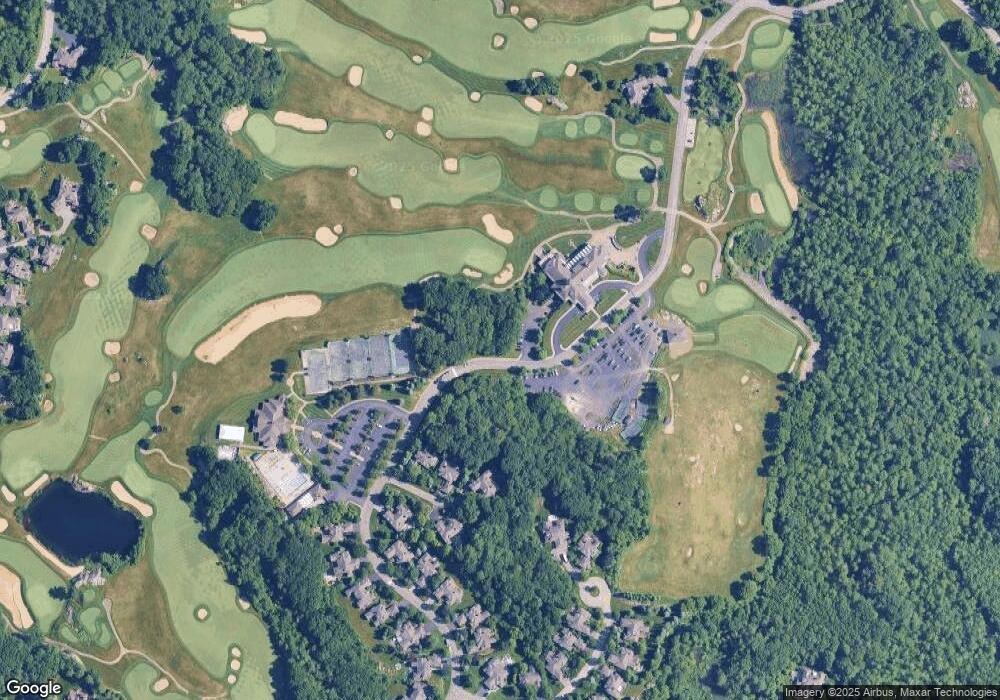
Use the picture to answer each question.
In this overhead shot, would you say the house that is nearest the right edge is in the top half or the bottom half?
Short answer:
bottom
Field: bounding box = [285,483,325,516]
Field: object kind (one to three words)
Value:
building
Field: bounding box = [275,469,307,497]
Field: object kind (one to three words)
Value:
swimming pool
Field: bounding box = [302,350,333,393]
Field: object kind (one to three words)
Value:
tennis court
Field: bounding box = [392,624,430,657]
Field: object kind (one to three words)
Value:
house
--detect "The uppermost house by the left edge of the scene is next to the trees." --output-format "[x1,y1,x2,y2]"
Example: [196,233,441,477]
[49,44,83,71]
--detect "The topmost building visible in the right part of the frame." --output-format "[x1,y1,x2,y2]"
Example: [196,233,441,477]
[628,64,664,114]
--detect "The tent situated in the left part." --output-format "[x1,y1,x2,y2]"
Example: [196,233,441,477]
[218,425,244,441]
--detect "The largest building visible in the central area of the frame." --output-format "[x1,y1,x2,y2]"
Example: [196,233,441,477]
[532,244,606,316]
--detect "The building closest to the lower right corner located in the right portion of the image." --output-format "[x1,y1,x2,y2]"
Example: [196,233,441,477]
[798,668,827,691]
